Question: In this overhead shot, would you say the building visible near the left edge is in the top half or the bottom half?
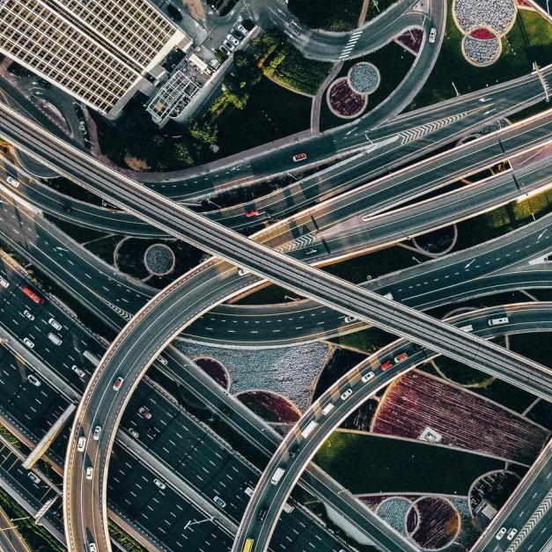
top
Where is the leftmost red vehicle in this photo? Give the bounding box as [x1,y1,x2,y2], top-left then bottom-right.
[22,287,40,302]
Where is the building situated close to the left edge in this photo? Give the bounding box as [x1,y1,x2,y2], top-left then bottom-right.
[0,0,197,128]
